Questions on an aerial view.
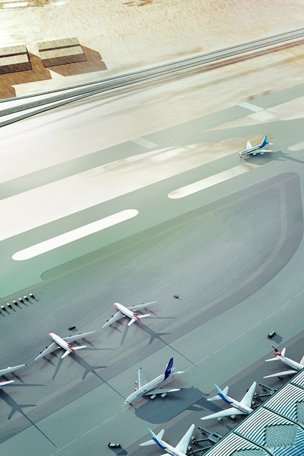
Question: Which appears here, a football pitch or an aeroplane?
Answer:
aeroplane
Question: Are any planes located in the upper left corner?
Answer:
No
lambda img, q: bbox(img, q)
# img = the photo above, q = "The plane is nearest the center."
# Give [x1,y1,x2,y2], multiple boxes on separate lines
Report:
[105,303,158,329]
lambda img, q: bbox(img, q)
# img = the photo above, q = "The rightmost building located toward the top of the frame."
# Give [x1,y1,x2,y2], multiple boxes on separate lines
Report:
[36,37,87,70]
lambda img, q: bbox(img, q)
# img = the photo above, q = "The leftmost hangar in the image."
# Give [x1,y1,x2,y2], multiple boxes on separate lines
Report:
[0,45,34,78]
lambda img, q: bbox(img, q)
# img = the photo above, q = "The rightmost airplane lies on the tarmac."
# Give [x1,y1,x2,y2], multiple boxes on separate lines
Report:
[264,347,304,379]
